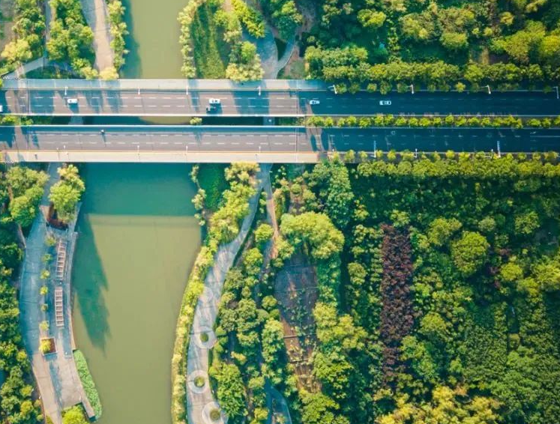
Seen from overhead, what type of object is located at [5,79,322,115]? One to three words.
bridge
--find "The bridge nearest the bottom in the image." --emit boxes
[0,126,325,161]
